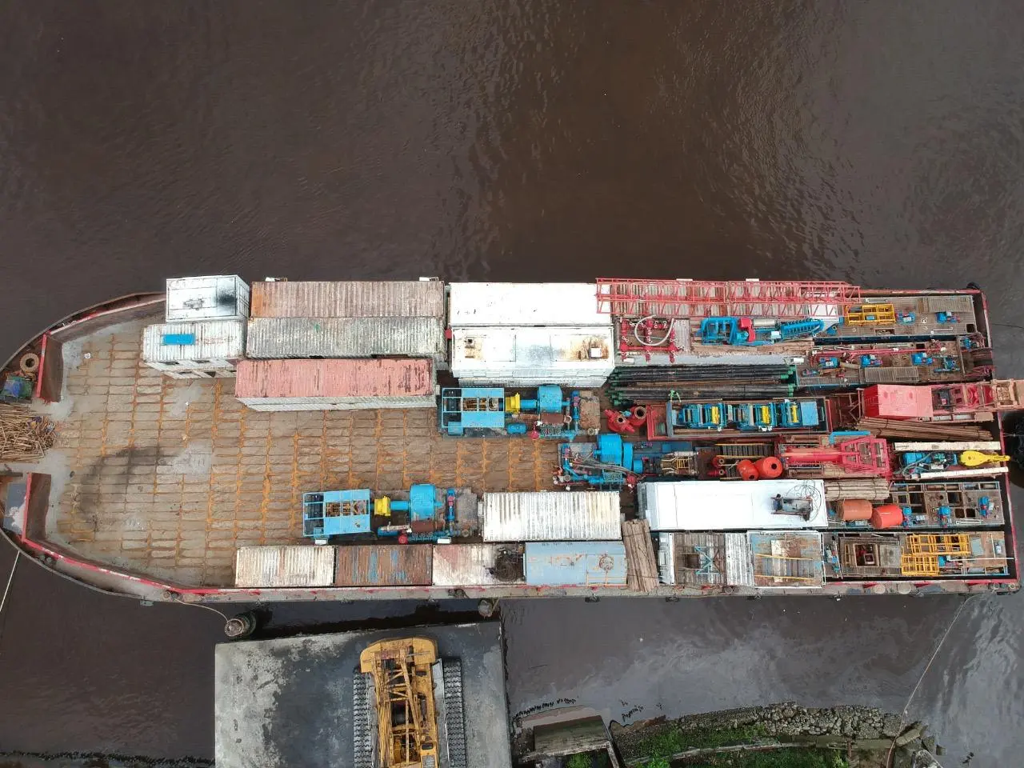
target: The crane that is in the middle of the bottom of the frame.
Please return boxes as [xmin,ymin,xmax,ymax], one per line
[356,637,467,768]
